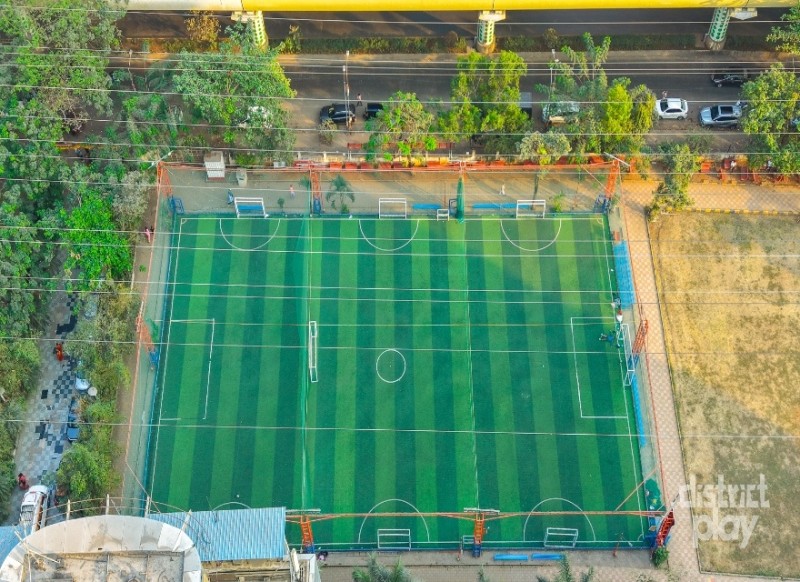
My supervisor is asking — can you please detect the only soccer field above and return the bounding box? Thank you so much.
[139,211,655,552]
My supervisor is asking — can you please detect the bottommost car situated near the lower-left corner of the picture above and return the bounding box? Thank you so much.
[10,484,48,527]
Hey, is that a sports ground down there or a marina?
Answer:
sports ground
